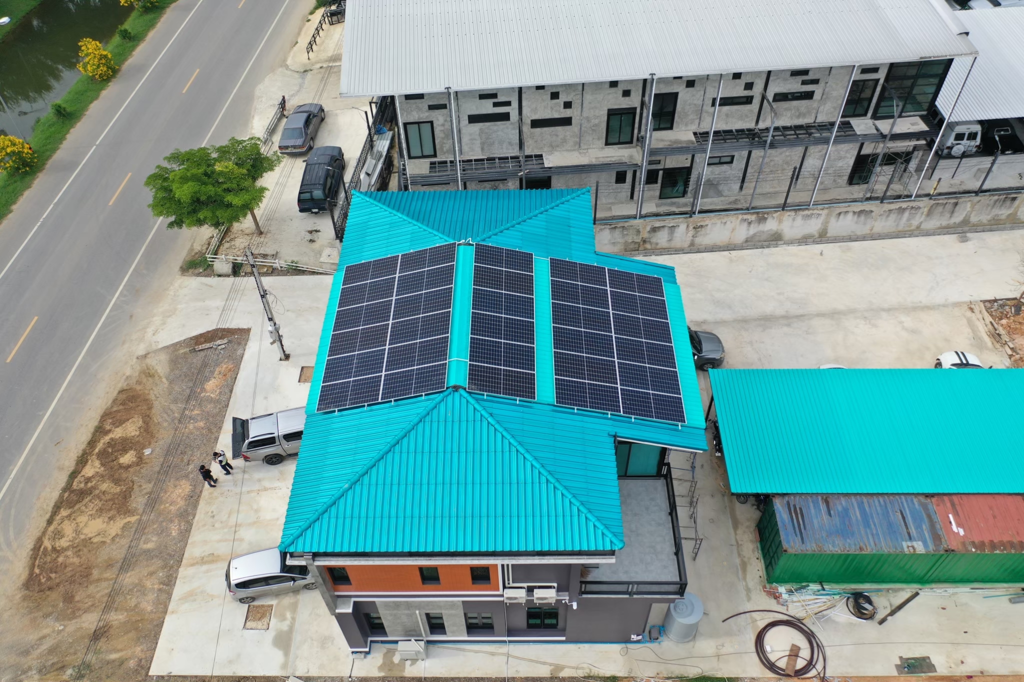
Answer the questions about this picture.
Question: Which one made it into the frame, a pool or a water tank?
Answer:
water tank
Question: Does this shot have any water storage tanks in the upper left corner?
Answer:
No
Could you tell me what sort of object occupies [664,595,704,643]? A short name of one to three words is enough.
water tank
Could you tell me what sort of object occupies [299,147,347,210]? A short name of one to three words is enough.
car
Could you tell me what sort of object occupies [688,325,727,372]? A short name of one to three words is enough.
car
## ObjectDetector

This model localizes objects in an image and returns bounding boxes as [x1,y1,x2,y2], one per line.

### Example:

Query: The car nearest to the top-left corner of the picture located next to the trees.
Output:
[280,101,325,153]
